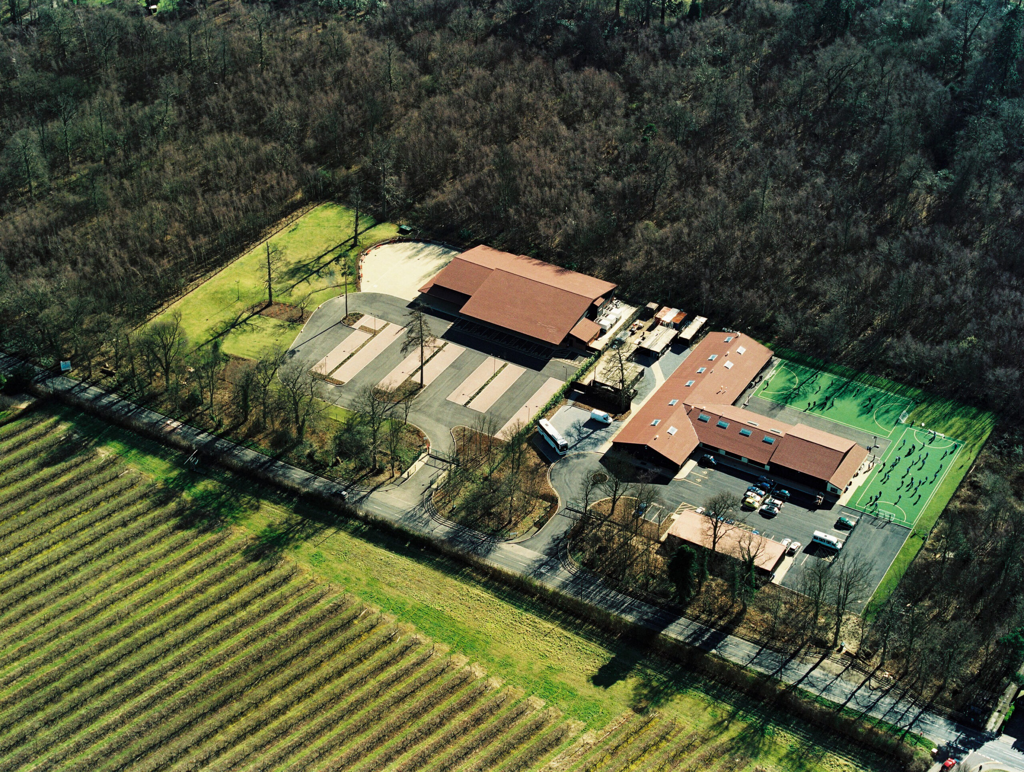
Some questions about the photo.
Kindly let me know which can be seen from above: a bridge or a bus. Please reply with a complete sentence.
Looking from above, you can make out a bus.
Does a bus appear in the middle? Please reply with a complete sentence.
Yes, a bus is visible in the middle.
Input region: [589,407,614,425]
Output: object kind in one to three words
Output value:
vehicle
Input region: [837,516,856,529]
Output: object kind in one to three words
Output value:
vehicle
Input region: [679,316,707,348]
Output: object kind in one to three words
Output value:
shed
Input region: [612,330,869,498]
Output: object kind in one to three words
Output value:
building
